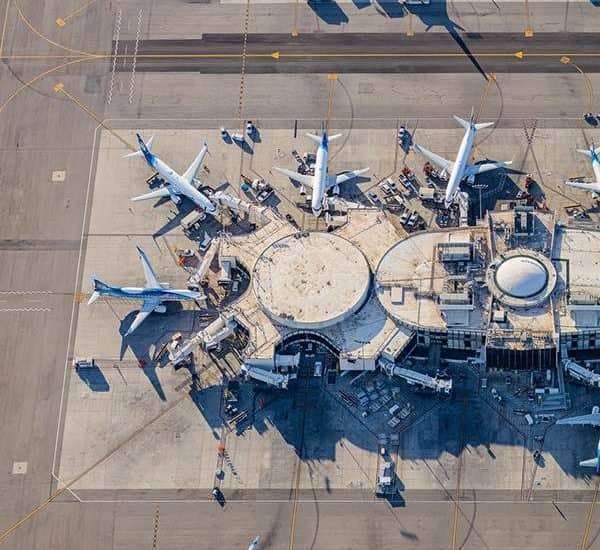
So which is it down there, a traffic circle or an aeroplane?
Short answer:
aeroplane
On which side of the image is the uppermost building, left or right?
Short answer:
right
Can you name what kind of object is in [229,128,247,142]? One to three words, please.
vehicle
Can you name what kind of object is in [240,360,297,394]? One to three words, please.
jet bridge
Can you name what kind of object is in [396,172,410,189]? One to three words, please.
vehicle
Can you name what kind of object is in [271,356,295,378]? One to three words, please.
jet bridge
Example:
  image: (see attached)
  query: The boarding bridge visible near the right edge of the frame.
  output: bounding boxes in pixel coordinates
[558,356,600,393]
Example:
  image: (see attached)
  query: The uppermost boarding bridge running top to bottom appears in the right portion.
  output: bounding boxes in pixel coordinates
[451,185,470,228]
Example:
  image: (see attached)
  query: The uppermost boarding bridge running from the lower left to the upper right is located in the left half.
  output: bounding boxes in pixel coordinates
[186,234,225,287]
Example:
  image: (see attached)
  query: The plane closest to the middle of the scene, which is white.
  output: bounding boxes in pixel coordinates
[273,126,370,217]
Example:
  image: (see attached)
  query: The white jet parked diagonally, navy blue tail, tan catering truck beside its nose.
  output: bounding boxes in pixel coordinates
[129,141,216,213]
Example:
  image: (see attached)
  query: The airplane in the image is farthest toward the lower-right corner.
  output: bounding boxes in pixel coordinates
[553,392,600,469]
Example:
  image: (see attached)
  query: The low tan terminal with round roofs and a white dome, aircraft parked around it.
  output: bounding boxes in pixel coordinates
[217,205,600,374]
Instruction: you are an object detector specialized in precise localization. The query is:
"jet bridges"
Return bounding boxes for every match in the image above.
[271,356,295,378]
[375,358,458,397]
[324,196,368,218]
[186,234,225,287]
[211,193,267,223]
[240,360,297,394]
[164,300,234,367]
[558,356,600,393]
[451,185,470,228]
